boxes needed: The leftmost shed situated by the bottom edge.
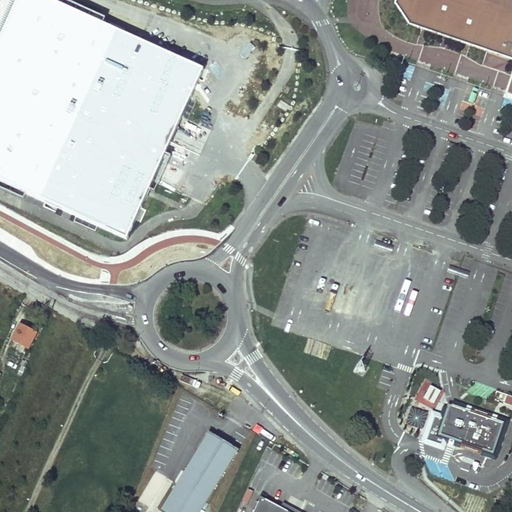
[132,471,174,512]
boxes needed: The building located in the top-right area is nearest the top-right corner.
[395,0,512,59]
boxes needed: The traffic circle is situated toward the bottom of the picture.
[135,260,246,371]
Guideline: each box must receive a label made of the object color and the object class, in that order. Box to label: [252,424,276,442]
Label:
white vehicle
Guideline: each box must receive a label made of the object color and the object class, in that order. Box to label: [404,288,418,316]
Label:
white vehicle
